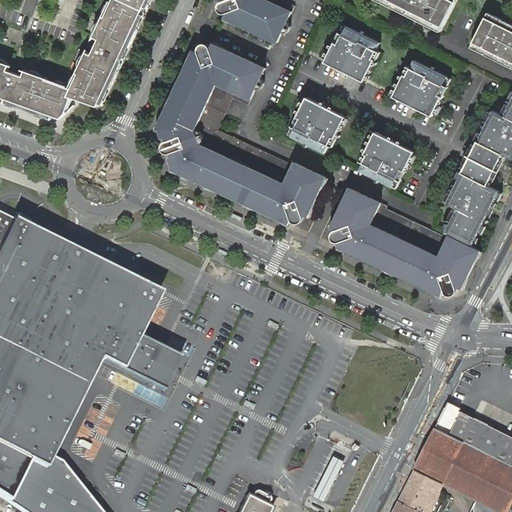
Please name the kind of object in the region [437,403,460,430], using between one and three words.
shed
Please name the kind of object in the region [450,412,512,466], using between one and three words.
building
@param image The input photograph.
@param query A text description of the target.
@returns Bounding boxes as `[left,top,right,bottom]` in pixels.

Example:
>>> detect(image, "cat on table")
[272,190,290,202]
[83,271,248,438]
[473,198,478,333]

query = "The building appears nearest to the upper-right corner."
[470,19,512,70]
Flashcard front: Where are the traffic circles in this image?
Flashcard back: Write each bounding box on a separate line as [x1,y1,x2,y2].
[56,130,149,224]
